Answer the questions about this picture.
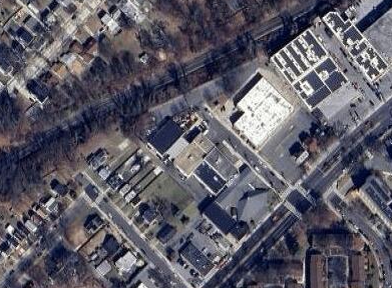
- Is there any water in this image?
No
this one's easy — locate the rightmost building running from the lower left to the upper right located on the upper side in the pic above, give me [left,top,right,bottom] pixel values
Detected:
[314,84,364,119]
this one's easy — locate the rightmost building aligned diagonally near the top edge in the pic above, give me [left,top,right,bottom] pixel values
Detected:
[323,11,388,84]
